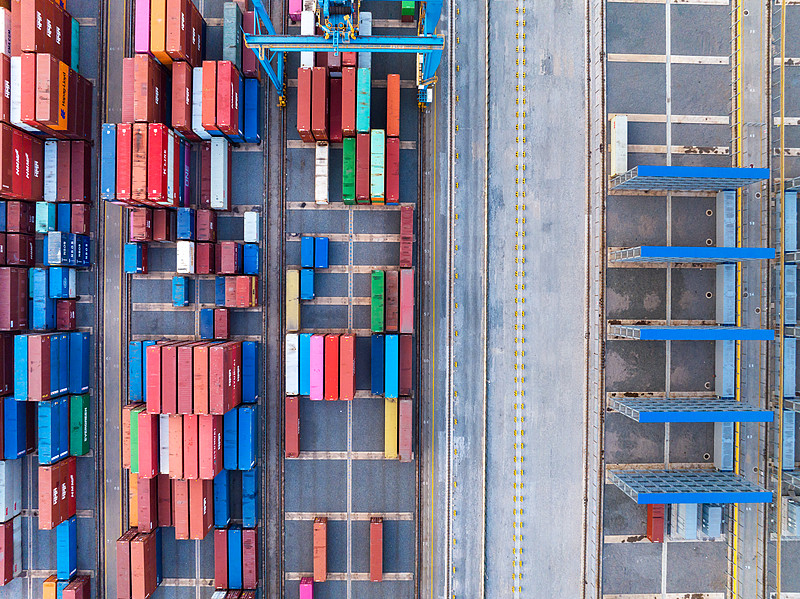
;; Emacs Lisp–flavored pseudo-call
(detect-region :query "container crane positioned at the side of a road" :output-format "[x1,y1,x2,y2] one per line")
[245,0,448,108]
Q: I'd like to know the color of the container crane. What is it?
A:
blue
